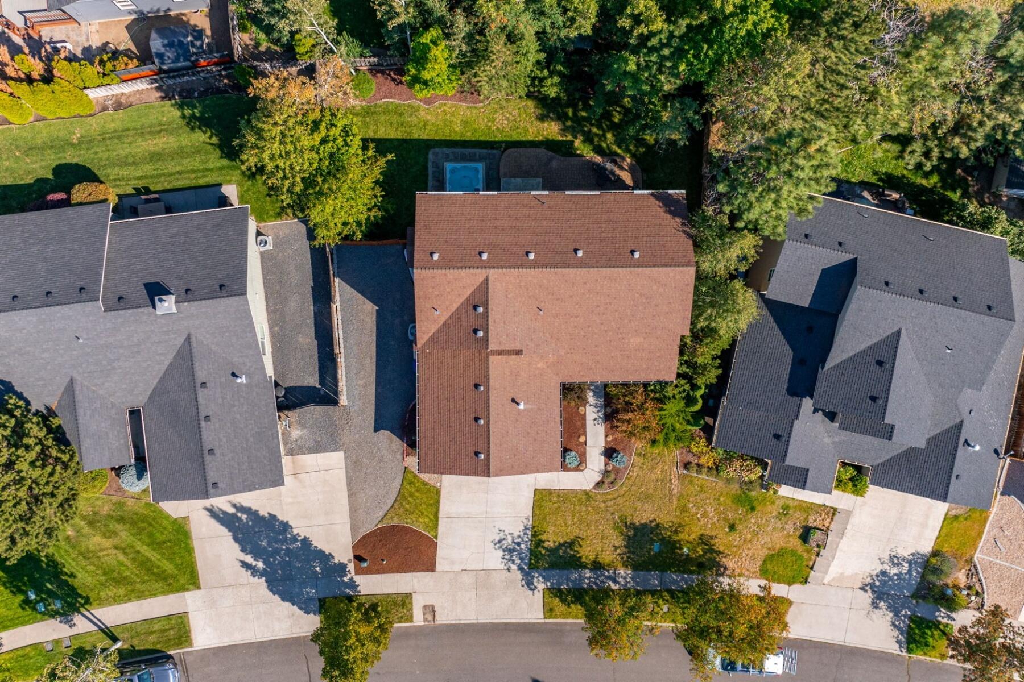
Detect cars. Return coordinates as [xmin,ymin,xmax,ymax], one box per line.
[706,642,796,682]
[103,652,184,682]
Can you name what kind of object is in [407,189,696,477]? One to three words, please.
house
